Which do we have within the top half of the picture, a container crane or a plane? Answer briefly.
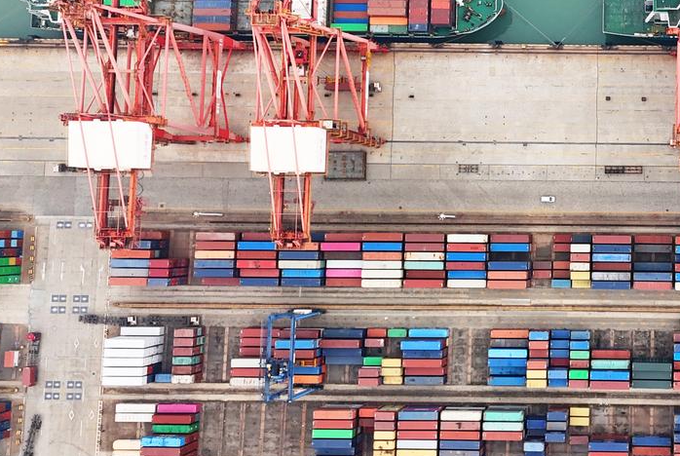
container crane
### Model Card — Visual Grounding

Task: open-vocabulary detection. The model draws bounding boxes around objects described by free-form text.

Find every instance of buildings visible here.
[2,350,22,369]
